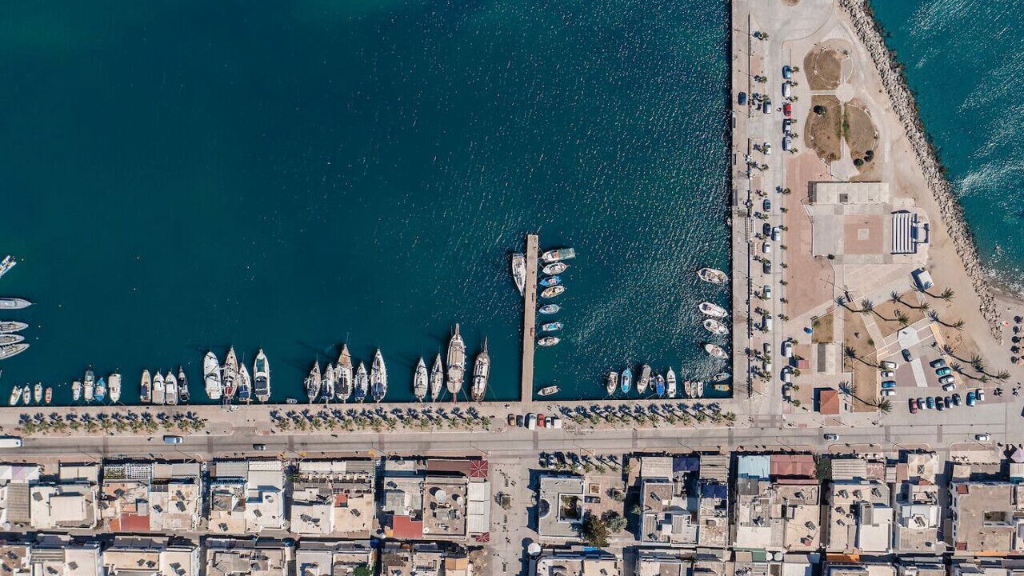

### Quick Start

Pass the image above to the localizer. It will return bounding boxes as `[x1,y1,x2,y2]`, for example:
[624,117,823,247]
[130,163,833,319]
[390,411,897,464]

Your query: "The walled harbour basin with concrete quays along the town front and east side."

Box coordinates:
[0,0,749,413]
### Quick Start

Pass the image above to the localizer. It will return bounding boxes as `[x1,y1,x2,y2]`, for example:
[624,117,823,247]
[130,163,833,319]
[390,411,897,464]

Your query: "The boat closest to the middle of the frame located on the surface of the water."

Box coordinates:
[512,253,526,296]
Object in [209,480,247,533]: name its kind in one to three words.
house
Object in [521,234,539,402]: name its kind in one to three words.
pier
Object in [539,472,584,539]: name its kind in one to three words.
building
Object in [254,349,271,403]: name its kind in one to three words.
boat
